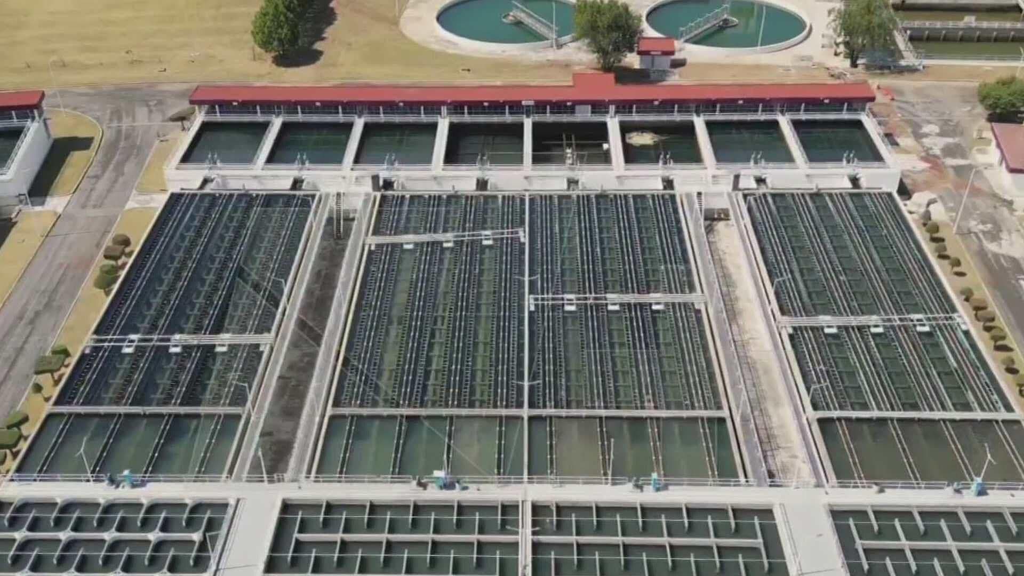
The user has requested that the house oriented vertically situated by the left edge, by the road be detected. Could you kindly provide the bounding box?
[0,83,68,232]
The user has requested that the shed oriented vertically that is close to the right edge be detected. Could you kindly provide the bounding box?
[990,123,1024,192]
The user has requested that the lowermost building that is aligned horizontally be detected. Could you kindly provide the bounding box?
[165,71,900,196]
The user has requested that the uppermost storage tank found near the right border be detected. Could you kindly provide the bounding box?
[738,193,1024,486]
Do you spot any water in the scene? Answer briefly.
Yes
